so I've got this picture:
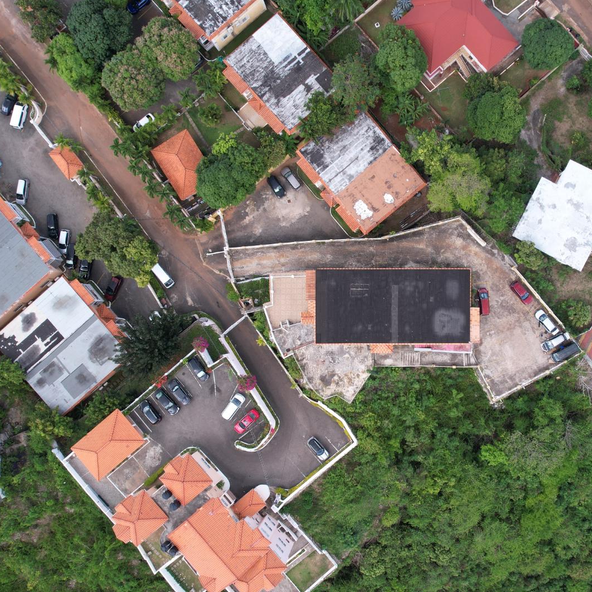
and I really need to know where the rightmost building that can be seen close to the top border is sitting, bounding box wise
[398,0,521,92]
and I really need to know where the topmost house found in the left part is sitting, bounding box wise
[154,0,267,60]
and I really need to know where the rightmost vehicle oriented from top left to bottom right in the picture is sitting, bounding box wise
[533,305,560,337]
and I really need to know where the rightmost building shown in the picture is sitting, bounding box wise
[512,159,592,270]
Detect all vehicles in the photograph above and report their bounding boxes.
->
[539,332,570,353]
[0,88,22,121]
[149,259,178,292]
[477,287,492,317]
[142,305,173,324]
[14,176,33,207]
[221,391,248,423]
[139,396,163,427]
[280,163,302,193]
[549,342,580,365]
[266,173,287,202]
[45,211,61,242]
[167,376,192,407]
[232,408,263,434]
[65,242,80,272]
[533,305,560,337]
[187,353,212,383]
[79,254,93,285]
[305,432,330,464]
[133,111,160,134]
[55,227,74,259]
[154,387,179,418]
[509,278,533,307]
[9,100,30,135]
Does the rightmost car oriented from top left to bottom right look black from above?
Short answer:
No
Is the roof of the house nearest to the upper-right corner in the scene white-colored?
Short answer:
No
